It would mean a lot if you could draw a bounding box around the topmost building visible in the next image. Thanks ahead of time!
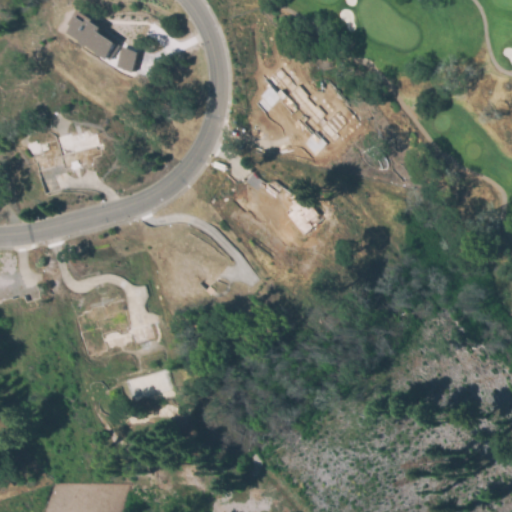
[66,12,120,57]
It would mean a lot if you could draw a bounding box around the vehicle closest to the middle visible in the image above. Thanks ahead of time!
[212,160,229,172]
